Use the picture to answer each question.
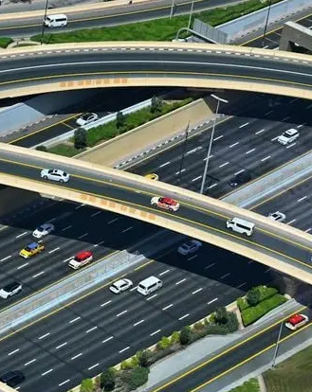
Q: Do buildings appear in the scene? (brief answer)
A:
No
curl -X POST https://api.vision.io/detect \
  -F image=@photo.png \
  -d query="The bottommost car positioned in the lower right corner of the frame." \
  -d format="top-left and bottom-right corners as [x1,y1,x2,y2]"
[285,314,308,330]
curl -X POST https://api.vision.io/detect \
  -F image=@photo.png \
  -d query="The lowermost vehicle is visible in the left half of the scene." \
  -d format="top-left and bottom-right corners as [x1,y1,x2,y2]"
[1,373,24,388]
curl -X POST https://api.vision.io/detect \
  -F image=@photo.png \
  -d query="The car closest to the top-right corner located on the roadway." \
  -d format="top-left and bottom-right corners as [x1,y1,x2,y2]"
[279,129,298,143]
